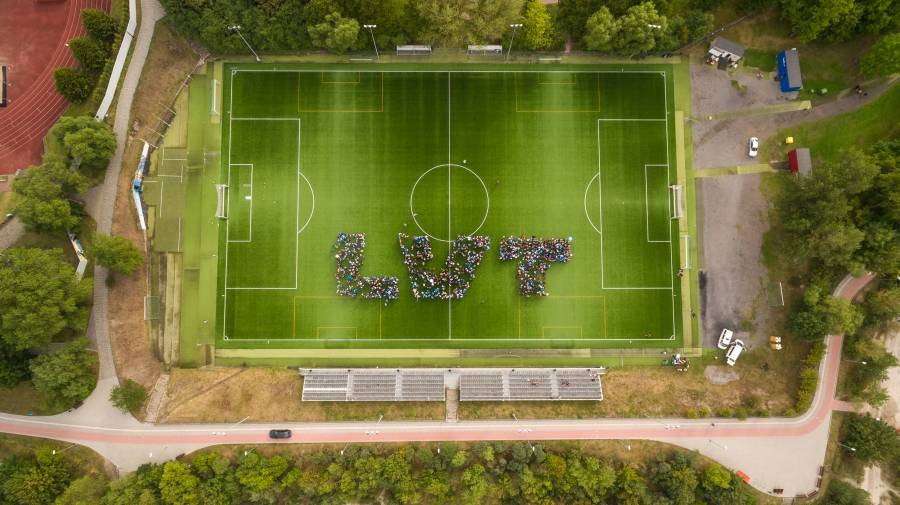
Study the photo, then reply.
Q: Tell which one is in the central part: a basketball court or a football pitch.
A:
football pitch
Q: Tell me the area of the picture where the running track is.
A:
top left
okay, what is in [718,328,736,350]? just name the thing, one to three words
vehicle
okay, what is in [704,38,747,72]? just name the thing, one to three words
house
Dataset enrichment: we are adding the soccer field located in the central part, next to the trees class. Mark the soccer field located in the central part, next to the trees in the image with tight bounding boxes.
[213,63,684,349]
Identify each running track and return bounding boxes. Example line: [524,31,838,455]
[0,0,108,176]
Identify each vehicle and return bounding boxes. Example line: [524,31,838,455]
[727,341,748,367]
[269,429,291,440]
[750,137,759,157]
[718,328,736,350]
